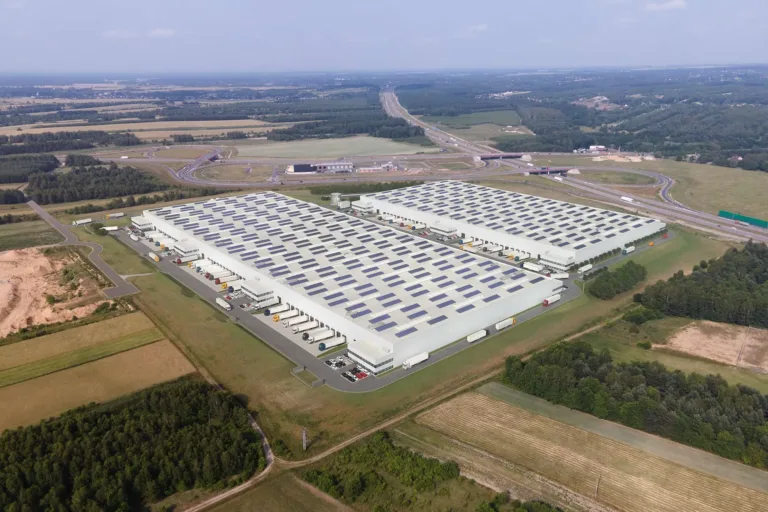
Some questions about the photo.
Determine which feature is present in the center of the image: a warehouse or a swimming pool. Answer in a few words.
warehouse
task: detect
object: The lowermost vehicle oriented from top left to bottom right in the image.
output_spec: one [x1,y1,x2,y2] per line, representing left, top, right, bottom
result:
[214,296,232,312]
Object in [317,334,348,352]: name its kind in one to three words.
vehicle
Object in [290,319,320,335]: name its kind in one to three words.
vehicle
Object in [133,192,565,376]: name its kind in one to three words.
warehouse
